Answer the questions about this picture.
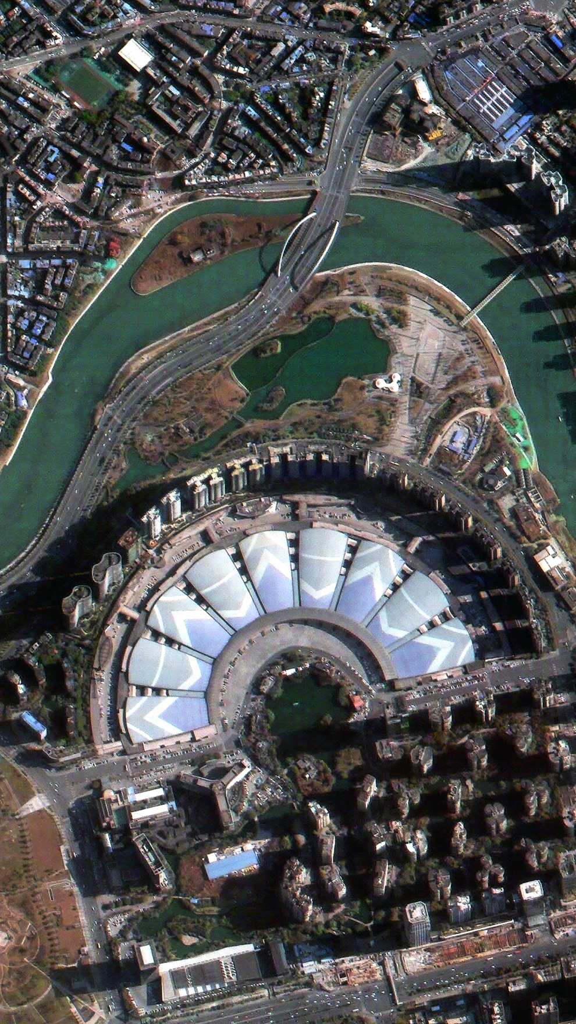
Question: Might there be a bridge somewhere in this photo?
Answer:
Yes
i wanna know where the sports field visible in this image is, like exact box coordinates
[63,62,114,106]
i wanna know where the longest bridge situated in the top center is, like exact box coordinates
[262,187,352,313]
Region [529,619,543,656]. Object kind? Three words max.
building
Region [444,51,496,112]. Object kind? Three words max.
shed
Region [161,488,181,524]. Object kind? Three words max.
building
